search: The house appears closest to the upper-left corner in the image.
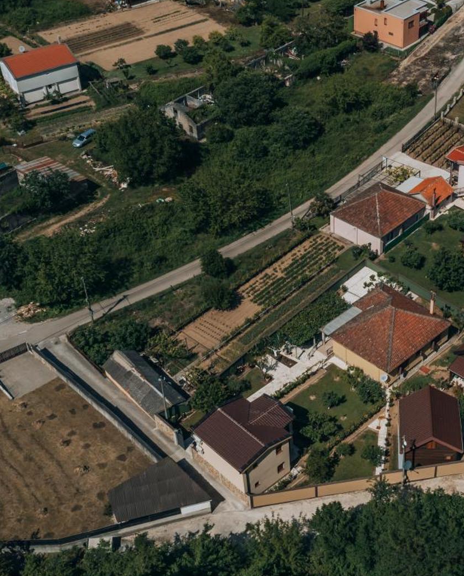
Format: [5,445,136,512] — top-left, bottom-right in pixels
[0,39,88,109]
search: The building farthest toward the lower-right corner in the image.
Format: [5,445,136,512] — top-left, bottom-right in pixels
[398,385,464,469]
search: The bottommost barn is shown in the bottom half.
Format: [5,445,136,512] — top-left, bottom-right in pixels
[110,457,213,539]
